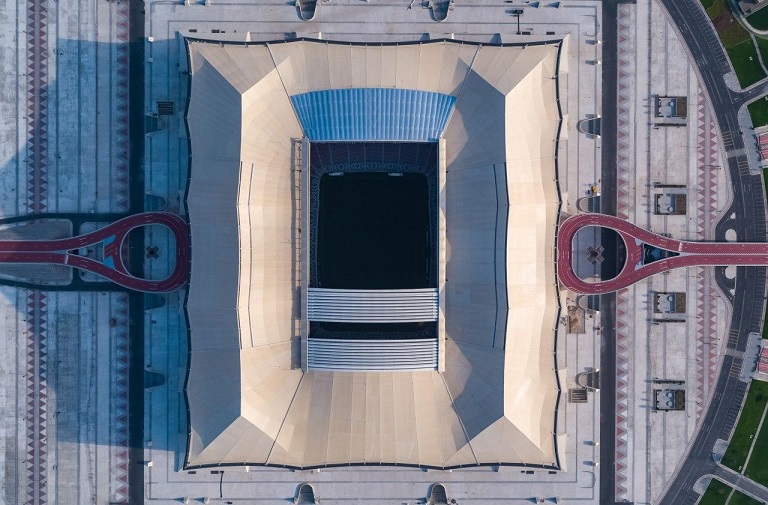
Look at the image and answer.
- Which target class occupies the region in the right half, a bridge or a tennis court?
bridge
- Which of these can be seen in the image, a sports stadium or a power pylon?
sports stadium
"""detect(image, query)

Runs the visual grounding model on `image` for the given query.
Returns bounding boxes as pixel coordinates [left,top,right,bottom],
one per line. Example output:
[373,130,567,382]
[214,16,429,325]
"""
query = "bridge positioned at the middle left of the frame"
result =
[0,211,188,292]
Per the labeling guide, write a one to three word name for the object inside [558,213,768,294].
bridge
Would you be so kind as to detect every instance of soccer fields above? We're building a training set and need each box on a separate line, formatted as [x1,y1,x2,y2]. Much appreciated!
[318,176,430,288]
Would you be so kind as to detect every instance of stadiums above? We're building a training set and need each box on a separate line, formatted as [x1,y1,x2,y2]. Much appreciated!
[179,33,568,472]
